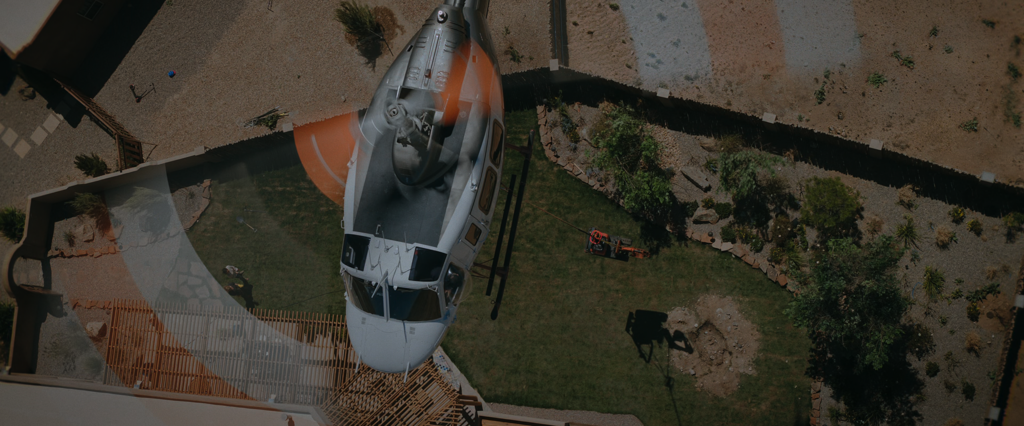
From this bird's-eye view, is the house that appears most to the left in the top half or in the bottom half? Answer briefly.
top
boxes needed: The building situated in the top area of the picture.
[0,0,136,82]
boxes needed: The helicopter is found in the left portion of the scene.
[0,0,755,375]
